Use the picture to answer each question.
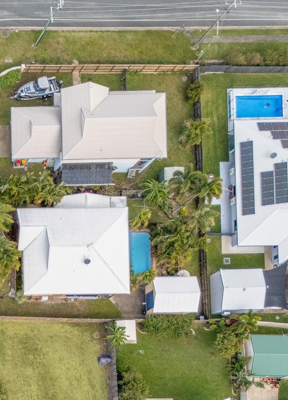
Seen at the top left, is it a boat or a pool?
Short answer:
boat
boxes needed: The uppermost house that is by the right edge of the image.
[227,119,288,270]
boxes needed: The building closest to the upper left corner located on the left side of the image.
[8,81,168,190]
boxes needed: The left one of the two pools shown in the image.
[129,230,155,277]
